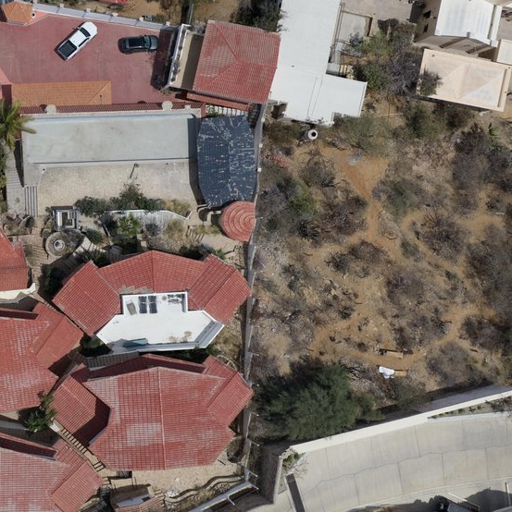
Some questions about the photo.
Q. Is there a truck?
Yes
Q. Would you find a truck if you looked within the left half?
Yes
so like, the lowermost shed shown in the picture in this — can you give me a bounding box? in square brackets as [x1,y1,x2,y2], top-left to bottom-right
[109,488,165,512]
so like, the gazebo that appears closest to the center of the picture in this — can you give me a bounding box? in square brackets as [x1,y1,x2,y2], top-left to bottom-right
[213,202,255,240]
